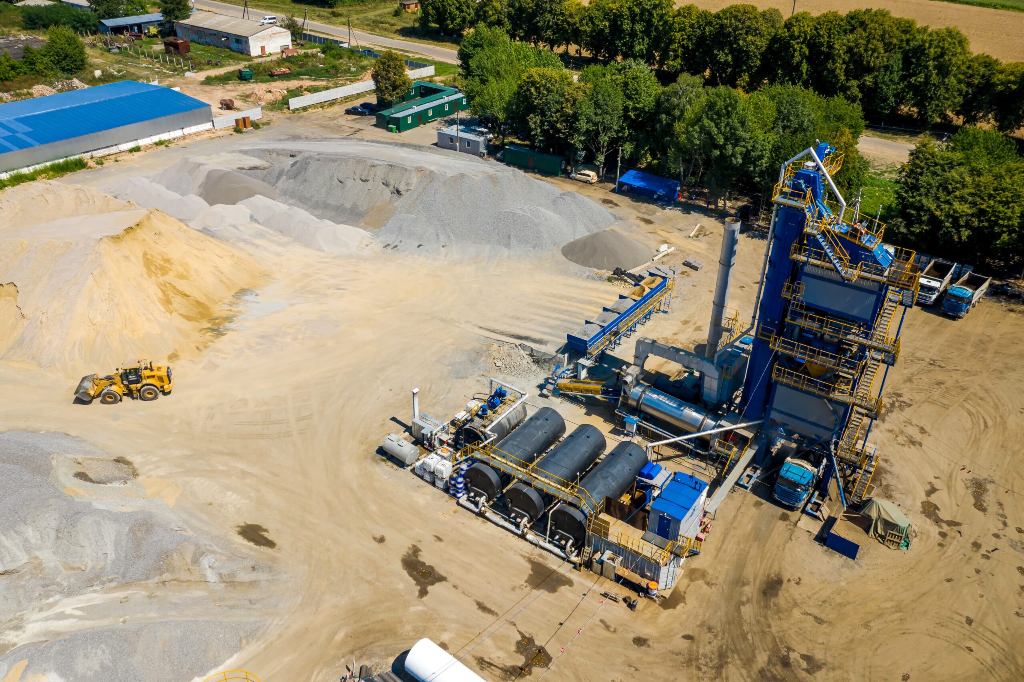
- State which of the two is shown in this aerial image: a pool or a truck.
truck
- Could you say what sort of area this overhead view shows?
industrial area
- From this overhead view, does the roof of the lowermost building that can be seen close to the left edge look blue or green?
blue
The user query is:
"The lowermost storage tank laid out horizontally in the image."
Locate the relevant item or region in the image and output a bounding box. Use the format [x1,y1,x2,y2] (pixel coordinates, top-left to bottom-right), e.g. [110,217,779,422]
[408,641,496,682]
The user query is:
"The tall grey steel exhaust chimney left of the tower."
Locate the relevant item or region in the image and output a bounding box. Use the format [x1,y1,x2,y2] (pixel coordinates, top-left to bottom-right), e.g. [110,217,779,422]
[708,214,749,363]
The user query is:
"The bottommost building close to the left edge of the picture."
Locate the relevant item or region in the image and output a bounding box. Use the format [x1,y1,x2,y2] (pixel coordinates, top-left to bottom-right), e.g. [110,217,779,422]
[0,80,214,177]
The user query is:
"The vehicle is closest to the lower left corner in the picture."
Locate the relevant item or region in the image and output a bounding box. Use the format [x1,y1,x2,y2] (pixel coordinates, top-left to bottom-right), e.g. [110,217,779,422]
[72,356,174,406]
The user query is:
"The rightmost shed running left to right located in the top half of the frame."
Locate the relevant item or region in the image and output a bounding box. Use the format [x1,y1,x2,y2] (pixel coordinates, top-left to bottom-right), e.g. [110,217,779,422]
[615,168,683,204]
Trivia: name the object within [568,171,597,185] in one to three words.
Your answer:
car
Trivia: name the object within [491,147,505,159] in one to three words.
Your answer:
vehicle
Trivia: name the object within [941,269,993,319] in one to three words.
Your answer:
truck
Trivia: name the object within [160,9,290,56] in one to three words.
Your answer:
barn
